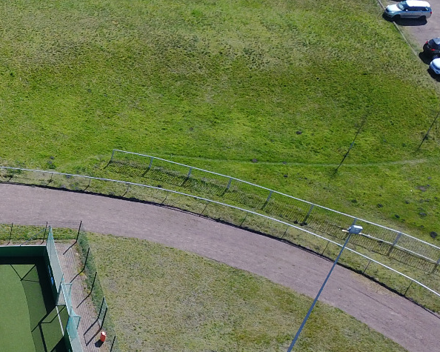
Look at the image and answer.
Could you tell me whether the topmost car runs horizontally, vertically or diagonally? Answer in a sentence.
The topmost car has been laid out horizontally relative to the frame.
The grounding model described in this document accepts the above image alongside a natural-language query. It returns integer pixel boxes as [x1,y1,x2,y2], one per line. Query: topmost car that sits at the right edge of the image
[381,1,435,24]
